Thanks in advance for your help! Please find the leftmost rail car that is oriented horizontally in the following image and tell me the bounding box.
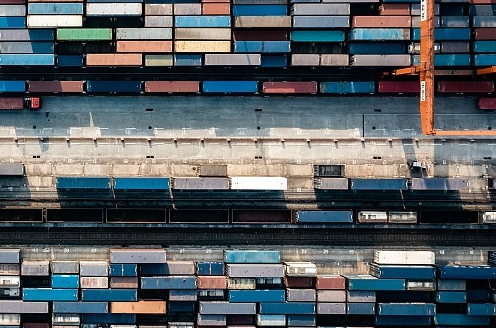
[0,205,45,221]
